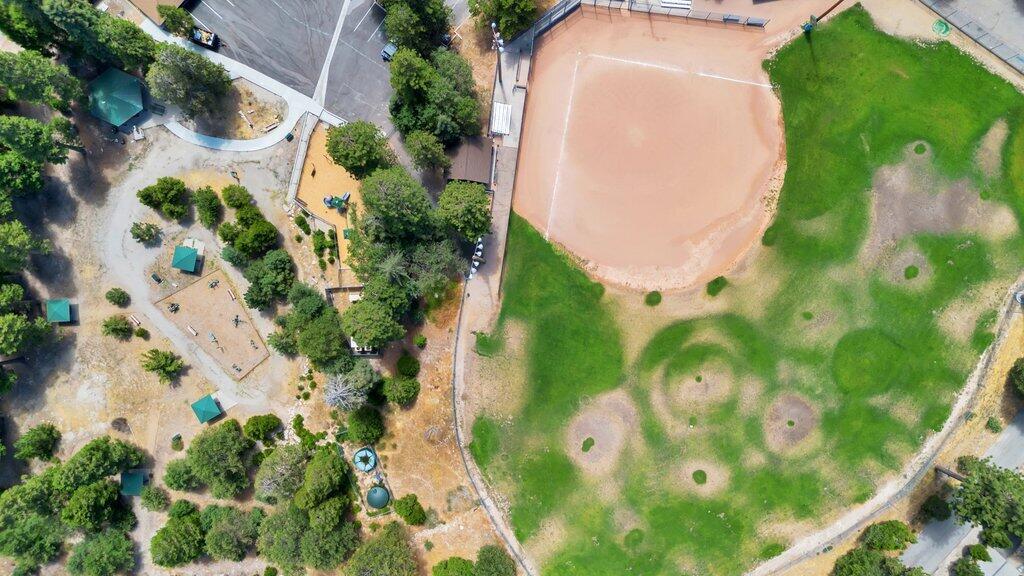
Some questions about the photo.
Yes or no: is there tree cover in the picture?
Yes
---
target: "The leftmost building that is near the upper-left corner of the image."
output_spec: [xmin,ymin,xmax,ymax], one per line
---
[88,68,151,128]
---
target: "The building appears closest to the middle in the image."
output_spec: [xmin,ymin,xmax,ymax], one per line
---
[449,138,493,183]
